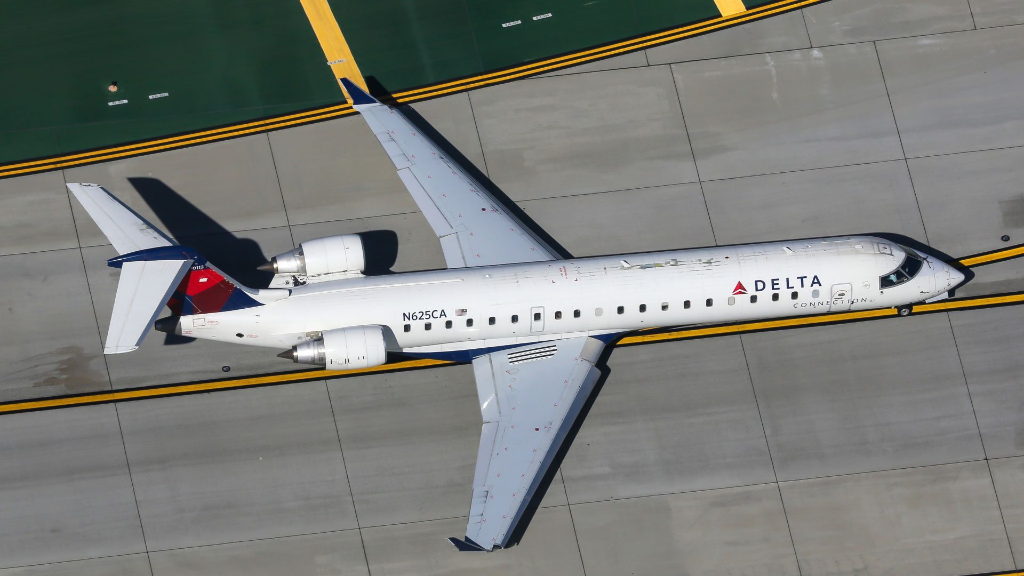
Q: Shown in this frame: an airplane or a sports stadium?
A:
airplane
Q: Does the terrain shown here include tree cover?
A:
No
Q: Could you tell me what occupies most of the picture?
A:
paved ground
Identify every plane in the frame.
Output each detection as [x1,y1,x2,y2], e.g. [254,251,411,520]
[66,78,964,551]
